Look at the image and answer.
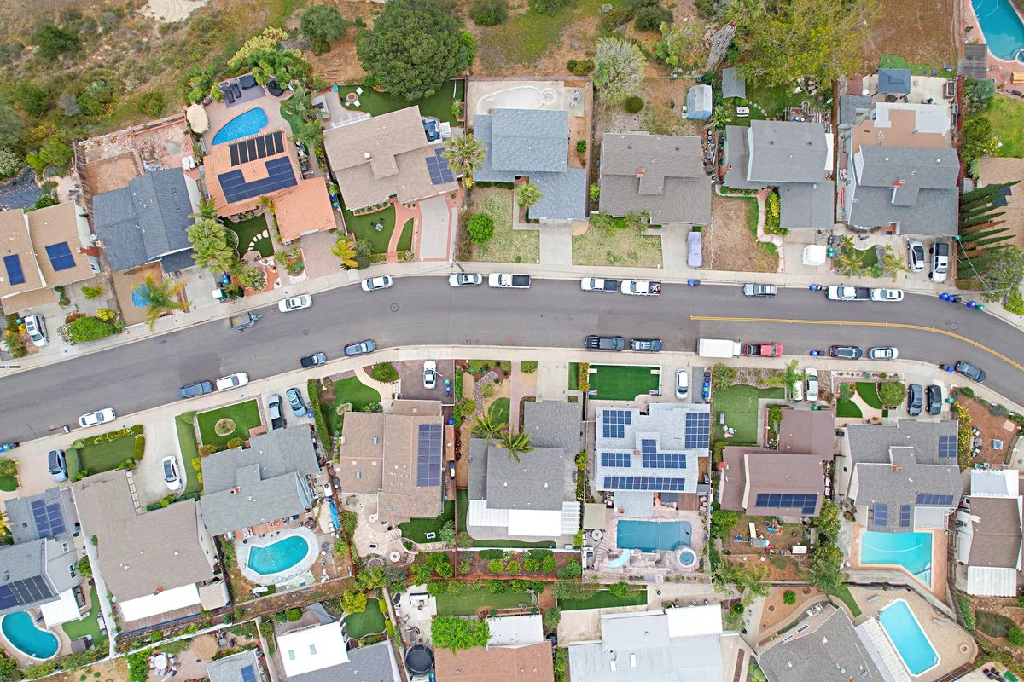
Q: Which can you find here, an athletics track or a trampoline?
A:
trampoline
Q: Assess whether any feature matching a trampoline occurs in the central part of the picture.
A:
No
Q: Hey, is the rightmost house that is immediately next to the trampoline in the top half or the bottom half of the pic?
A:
bottom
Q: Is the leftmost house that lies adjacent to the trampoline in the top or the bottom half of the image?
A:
bottom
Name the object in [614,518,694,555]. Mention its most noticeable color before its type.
blue swimming pool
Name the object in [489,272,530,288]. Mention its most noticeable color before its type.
white vehicle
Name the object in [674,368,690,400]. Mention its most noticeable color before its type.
white car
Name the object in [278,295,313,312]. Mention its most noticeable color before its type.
white car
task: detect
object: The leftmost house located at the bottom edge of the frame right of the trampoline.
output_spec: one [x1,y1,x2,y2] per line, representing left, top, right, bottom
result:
[435,609,555,682]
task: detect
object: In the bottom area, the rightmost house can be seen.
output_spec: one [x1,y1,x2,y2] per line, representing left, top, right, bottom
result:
[947,467,1024,597]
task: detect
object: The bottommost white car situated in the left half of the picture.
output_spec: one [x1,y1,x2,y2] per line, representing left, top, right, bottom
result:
[162,454,185,491]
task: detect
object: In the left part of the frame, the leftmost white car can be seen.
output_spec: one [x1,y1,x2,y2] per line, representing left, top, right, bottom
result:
[25,312,50,346]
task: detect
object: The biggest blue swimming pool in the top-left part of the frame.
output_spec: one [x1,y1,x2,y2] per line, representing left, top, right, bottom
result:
[211,105,269,148]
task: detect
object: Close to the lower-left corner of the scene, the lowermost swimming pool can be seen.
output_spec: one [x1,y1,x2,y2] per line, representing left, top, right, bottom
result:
[0,609,61,662]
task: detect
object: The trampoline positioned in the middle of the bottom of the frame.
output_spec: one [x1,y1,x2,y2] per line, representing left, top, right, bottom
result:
[402,644,434,681]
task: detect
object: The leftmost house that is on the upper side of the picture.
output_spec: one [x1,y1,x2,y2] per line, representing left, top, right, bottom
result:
[0,201,105,316]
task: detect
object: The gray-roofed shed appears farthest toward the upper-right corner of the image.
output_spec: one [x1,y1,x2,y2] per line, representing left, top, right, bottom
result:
[954,44,988,83]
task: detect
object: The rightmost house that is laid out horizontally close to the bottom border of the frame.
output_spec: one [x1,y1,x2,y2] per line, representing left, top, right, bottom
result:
[749,603,913,682]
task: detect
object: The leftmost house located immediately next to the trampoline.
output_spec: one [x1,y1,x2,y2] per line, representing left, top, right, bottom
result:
[277,615,405,682]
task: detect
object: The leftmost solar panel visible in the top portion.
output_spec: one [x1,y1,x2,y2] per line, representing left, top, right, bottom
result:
[4,254,24,284]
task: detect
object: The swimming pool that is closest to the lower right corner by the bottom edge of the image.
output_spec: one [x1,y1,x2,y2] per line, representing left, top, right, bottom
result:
[878,599,941,677]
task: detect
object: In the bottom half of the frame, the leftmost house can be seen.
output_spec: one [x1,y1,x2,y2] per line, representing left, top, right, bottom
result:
[0,485,91,629]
